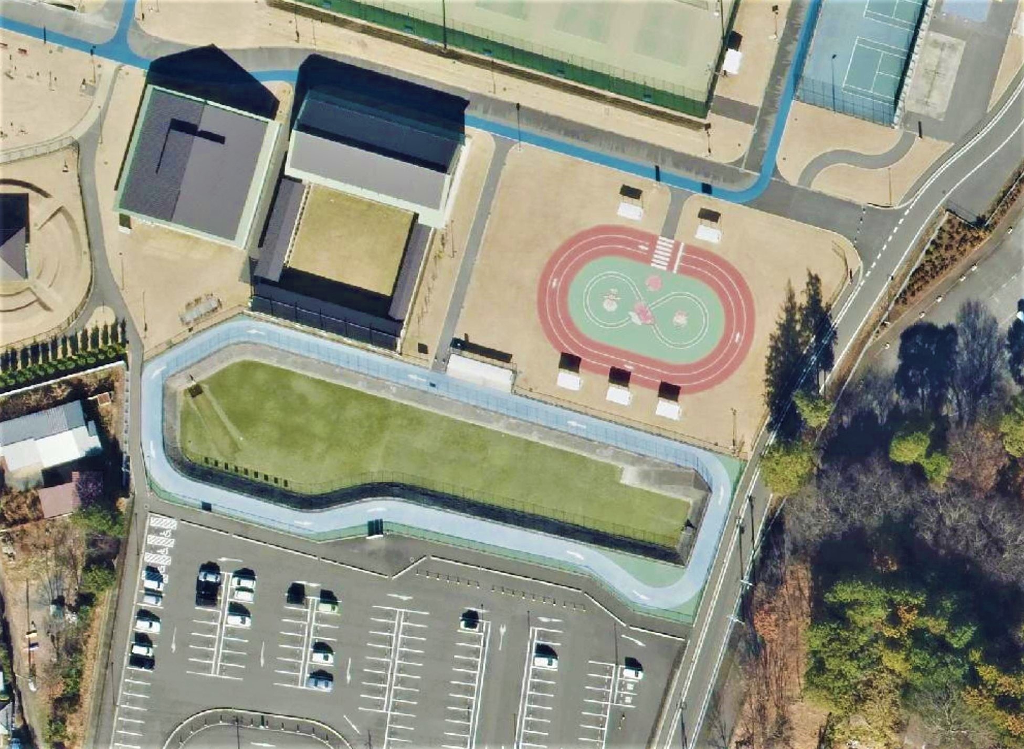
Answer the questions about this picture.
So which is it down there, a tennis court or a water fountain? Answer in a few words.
tennis court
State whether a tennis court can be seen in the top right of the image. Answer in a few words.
Yes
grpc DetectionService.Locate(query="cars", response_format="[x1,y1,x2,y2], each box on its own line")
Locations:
[195,583,220,596]
[135,622,160,635]
[142,597,162,608]
[198,572,220,583]
[227,617,251,629]
[232,578,256,590]
[131,648,153,659]
[318,604,338,615]
[312,654,333,665]
[285,596,305,606]
[623,670,644,682]
[194,596,218,608]
[459,620,481,632]
[534,658,558,671]
[129,658,155,671]
[234,592,254,603]
[307,680,333,693]
[143,582,164,594]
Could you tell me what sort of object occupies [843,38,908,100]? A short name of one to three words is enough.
tennis court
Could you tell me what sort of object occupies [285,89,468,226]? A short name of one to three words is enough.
building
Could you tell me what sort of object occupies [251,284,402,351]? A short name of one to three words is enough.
house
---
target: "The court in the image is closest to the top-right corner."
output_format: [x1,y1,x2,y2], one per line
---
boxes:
[866,0,924,31]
